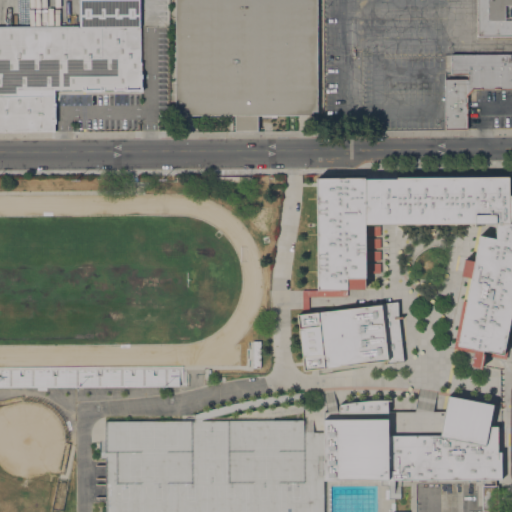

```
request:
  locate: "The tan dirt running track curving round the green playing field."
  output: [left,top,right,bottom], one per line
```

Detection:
[0,196,262,366]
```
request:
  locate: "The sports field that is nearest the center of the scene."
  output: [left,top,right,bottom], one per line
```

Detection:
[0,216,242,344]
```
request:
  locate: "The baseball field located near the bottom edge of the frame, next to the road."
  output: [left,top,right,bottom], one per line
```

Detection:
[0,400,66,487]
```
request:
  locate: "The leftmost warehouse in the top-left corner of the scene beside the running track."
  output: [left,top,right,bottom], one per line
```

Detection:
[0,0,141,132]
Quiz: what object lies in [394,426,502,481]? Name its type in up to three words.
building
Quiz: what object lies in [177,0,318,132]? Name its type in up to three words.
warehouse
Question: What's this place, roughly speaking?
industrial area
